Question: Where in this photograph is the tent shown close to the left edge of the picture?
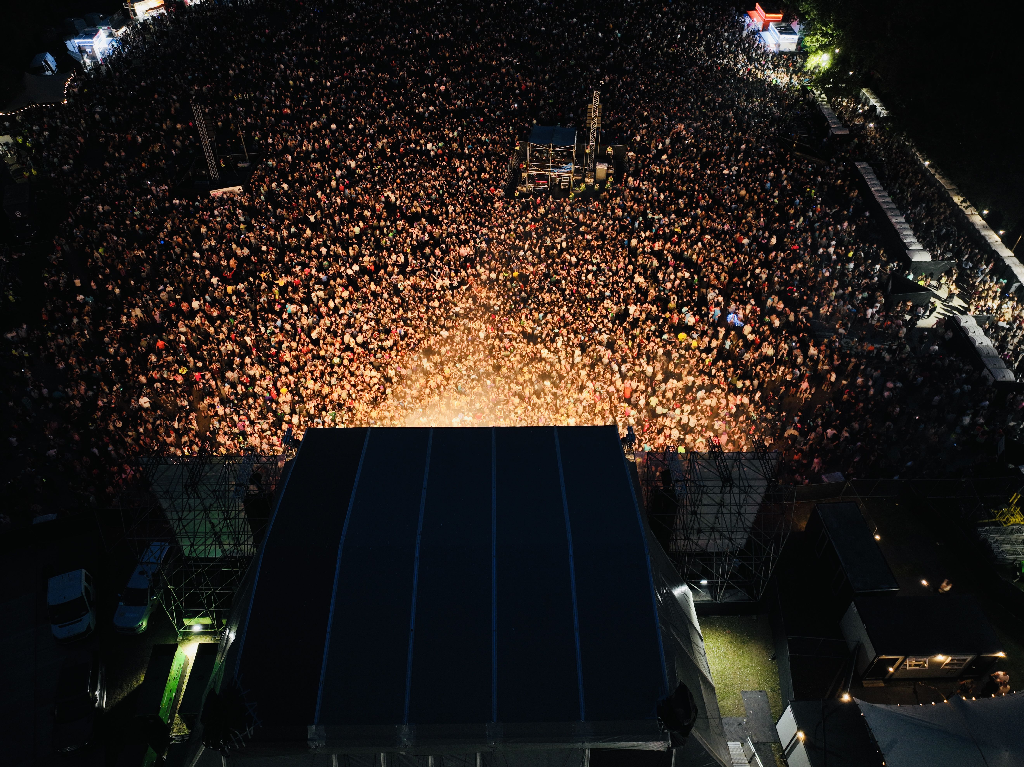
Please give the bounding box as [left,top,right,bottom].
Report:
[0,68,84,128]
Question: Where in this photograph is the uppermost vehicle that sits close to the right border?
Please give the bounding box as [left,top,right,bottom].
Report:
[977,472,1024,531]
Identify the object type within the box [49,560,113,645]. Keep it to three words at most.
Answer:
van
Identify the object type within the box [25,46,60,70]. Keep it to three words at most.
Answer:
vehicle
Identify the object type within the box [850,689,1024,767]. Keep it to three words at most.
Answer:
tent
